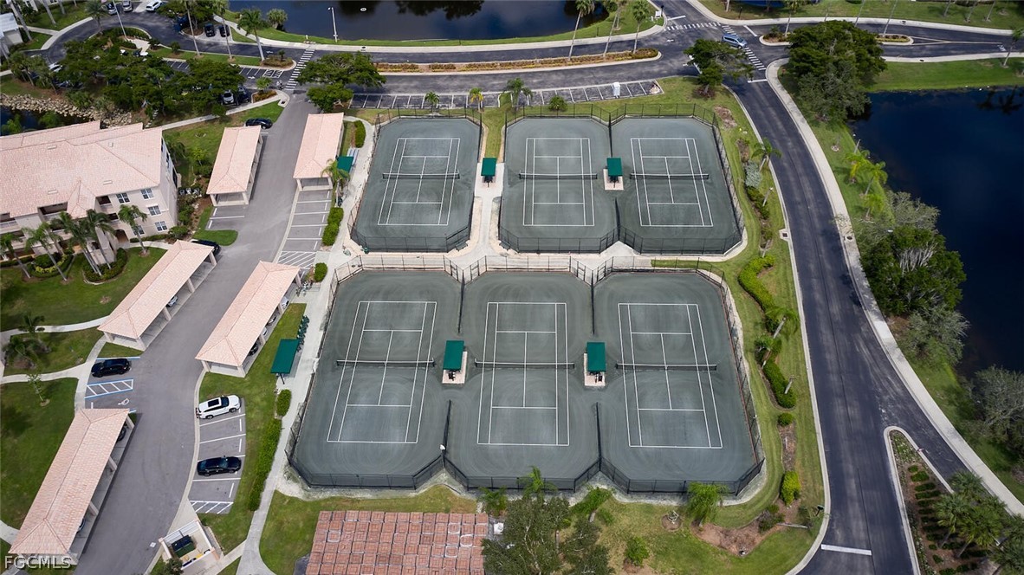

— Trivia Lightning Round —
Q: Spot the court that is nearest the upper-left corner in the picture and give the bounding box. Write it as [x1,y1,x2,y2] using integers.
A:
[351,118,479,251]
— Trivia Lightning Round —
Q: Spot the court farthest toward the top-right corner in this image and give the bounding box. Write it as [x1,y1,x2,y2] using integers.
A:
[611,118,740,253]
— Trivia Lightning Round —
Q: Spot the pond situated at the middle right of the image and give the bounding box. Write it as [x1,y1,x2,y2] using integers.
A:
[848,87,1024,425]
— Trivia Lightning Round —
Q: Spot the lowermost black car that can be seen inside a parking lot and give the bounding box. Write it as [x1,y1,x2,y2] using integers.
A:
[198,455,242,478]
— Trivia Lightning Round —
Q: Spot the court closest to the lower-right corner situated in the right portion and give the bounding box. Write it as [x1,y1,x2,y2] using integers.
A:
[593,273,759,494]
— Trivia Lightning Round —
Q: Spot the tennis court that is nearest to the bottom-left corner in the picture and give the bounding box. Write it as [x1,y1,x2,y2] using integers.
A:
[291,271,461,489]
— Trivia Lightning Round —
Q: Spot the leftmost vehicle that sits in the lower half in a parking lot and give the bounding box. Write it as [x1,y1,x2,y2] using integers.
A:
[92,355,130,379]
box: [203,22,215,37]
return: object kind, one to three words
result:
vehicle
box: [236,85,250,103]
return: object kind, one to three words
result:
car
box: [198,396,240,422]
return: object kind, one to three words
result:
car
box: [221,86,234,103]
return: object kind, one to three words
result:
vehicle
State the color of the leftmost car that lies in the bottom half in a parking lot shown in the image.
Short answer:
black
